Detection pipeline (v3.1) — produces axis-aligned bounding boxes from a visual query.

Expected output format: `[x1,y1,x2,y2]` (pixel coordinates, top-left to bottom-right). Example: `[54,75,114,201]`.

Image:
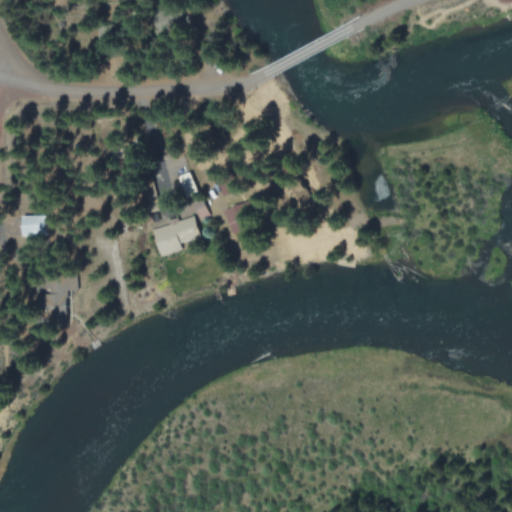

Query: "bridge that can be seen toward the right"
[248,17,367,83]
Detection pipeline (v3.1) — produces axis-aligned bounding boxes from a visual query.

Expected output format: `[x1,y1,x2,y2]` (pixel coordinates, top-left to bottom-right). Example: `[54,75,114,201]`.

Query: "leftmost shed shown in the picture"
[21,216,45,238]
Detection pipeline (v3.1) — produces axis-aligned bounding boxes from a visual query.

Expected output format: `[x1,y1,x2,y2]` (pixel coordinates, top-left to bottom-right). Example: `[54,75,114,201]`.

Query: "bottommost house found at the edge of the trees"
[49,276,78,322]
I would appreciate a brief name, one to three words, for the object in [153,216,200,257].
house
